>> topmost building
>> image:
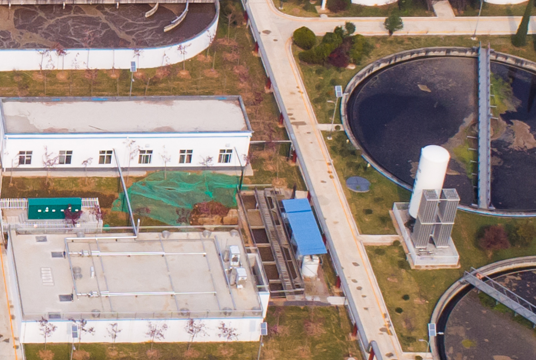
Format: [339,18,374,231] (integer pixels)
[0,96,253,171]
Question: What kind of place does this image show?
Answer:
industrial area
